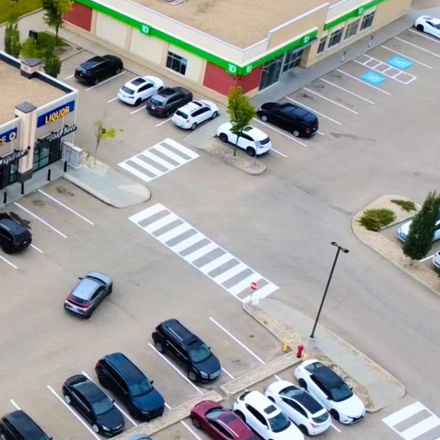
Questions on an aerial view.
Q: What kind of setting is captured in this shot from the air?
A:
parking lot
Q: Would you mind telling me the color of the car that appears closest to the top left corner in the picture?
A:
black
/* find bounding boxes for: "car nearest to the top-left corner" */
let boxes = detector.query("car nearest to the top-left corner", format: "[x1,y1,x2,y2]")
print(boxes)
[76,55,122,84]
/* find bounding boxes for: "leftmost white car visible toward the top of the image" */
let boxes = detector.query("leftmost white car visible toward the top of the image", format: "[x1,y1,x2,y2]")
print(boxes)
[118,76,162,104]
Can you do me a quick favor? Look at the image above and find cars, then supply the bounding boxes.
[231,389,300,440]
[155,324,221,381]
[143,87,189,117]
[76,55,122,84]
[259,102,317,137]
[174,98,219,128]
[191,403,260,440]
[118,76,162,104]
[0,212,30,252]
[427,244,440,271]
[299,364,369,425]
[416,16,440,37]
[99,359,163,420]
[0,412,49,440]
[67,273,115,318]
[266,379,337,438]
[391,204,435,241]
[62,376,127,437]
